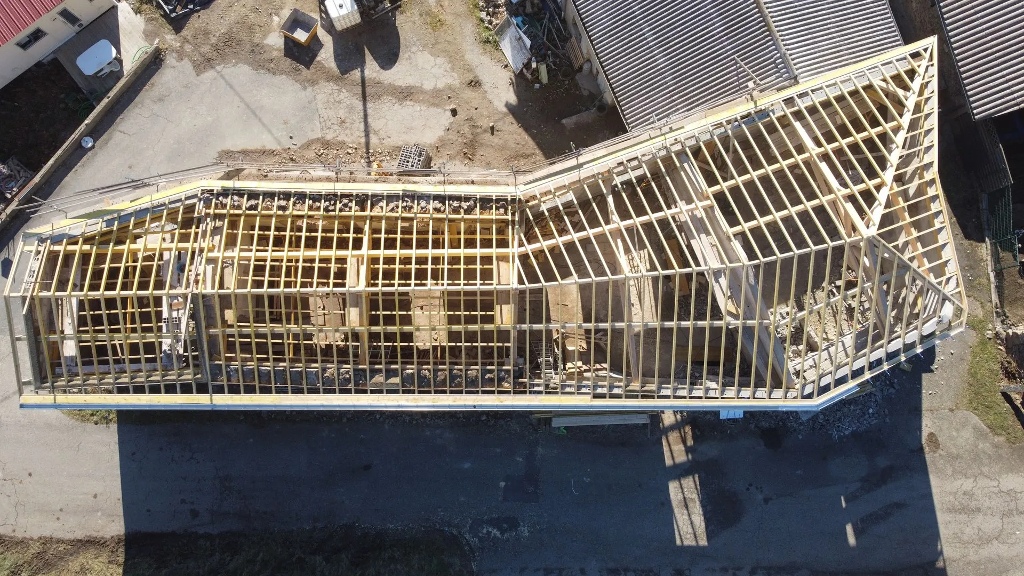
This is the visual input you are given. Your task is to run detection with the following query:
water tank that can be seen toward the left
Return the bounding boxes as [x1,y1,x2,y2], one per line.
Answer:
[326,0,364,32]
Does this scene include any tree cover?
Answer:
No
